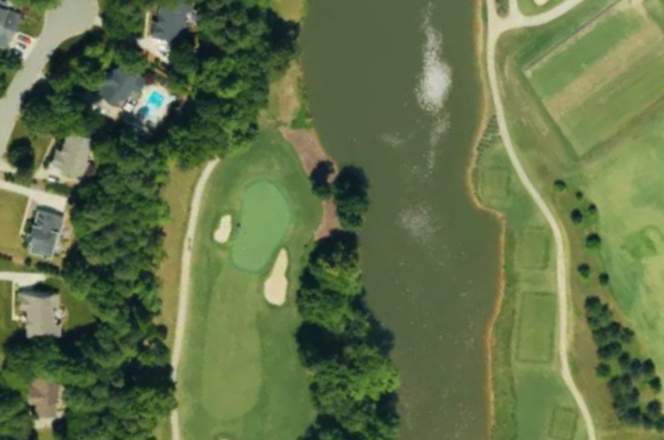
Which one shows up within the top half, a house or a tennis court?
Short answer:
house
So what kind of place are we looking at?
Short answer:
golf course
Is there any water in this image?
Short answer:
Yes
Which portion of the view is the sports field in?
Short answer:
top right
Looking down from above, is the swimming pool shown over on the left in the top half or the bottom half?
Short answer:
top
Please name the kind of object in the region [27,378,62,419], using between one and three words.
house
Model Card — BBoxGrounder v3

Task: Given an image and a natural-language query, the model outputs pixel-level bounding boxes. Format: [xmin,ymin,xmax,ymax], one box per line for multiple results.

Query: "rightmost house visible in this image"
[149,0,193,44]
